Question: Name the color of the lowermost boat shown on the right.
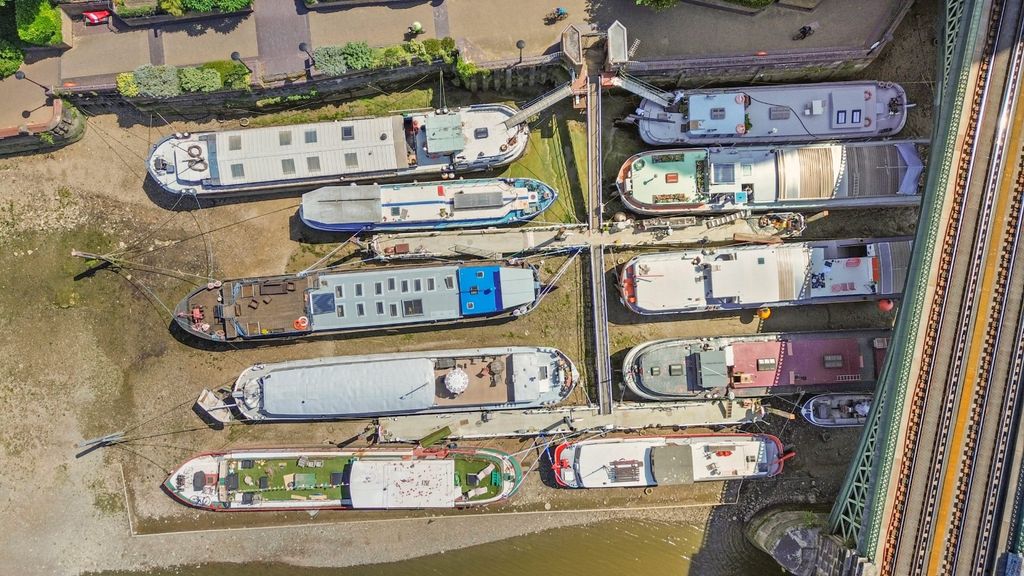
white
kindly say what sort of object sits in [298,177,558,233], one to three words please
boat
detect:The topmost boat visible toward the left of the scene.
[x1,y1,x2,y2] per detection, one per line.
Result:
[145,103,529,195]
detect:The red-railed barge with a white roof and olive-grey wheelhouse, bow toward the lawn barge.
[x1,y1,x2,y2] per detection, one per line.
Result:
[550,429,801,491]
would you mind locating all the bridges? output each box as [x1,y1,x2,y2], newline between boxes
[822,0,1024,576]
